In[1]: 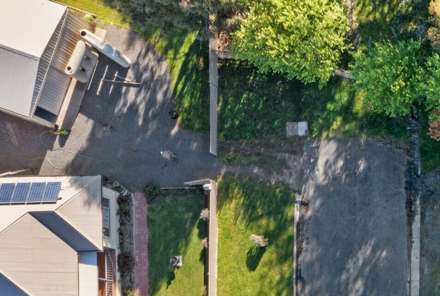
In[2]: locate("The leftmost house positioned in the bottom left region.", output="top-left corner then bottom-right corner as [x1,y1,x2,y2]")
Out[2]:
[0,174,123,296]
